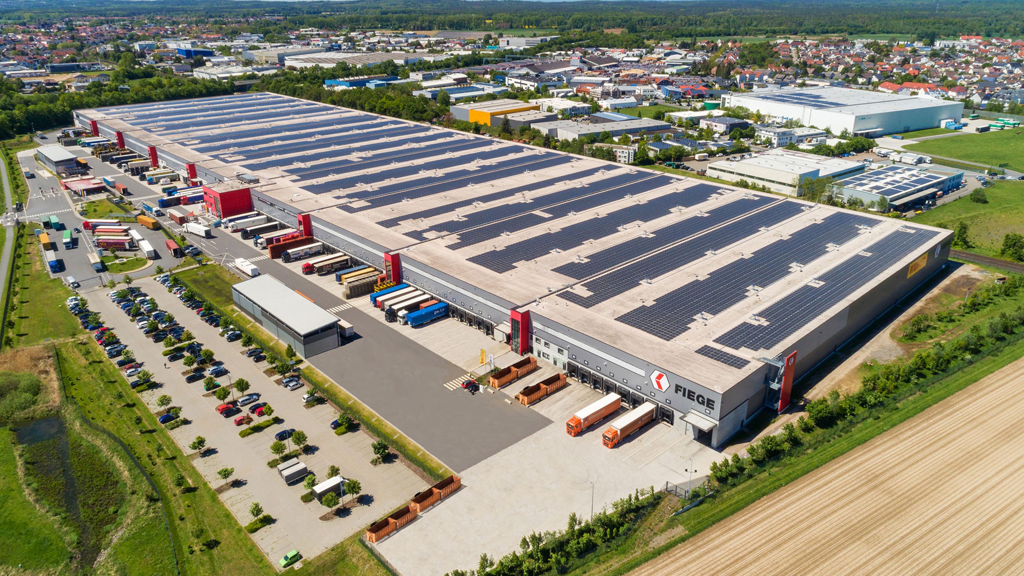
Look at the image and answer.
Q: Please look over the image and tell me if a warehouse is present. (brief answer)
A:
Yes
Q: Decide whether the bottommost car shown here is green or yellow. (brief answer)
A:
green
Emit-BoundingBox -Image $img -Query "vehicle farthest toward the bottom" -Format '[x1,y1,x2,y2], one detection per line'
[277,548,303,568]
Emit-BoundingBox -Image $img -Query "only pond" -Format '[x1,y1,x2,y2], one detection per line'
[13,415,89,531]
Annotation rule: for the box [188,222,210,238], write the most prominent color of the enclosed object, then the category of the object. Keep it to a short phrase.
white vehicle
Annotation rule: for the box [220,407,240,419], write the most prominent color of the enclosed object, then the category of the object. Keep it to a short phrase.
black vehicle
